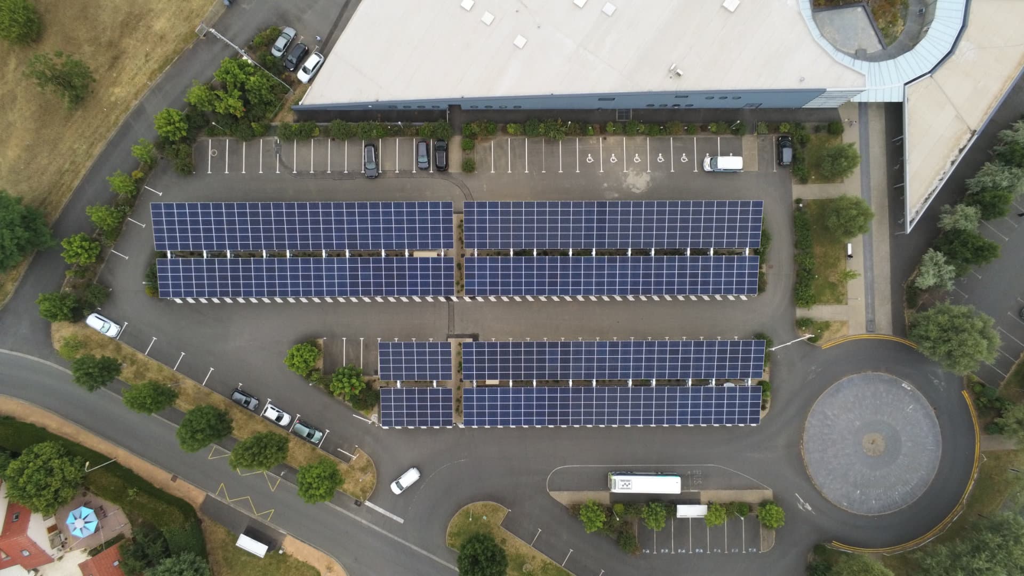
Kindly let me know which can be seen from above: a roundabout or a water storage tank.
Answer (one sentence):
It is a roundabout that can be seen here.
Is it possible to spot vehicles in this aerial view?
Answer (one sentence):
Yes, there's a vehicle down there.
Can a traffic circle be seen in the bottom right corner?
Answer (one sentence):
Yes, I can see a traffic circle in the bottom right corner.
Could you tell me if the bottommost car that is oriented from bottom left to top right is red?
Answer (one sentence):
No, the bottommost car that is oriented from bottom left to top right is white.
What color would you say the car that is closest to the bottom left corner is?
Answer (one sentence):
The car that is closest to the bottom left corner is white.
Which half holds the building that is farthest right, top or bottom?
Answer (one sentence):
The top half of the photo is where the building that is farthest right is.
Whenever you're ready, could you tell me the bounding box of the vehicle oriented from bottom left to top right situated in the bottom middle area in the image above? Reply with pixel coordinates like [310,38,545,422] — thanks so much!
[391,466,421,495]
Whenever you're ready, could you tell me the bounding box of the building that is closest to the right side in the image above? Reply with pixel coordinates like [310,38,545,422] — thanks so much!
[893,0,1024,235]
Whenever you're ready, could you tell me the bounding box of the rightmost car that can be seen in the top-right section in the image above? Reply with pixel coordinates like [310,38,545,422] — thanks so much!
[777,136,794,166]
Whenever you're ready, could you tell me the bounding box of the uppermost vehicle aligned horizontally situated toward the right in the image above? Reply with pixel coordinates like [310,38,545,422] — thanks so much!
[703,155,744,172]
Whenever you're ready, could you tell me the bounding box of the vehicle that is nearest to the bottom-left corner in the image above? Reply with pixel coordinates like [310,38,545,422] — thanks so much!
[86,312,121,337]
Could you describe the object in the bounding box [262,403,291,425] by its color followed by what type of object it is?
white car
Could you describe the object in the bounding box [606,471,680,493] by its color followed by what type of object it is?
white bus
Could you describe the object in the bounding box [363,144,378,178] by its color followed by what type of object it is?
gray car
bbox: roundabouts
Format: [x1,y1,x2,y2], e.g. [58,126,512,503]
[804,374,943,513]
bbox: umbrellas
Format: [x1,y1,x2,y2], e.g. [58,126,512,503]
[68,505,98,536]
